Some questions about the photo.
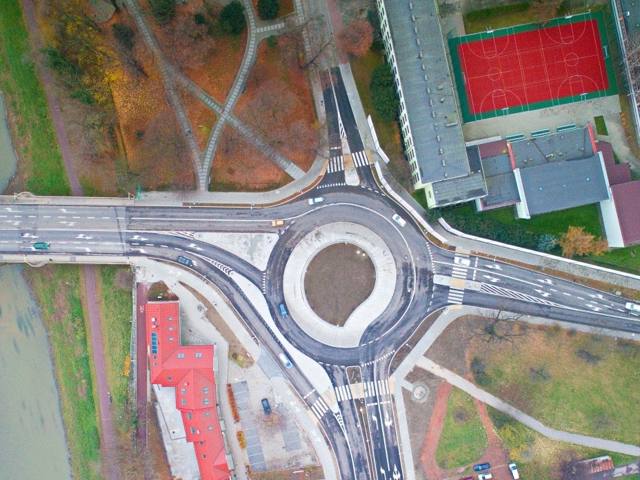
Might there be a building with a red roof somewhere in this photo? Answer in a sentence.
Yes, a building with a red roof is visible in the scene.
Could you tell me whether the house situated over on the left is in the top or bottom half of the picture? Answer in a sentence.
The house situated over on the left is in the bottom half of the image.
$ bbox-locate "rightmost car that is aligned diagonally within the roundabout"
[393,214,406,229]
